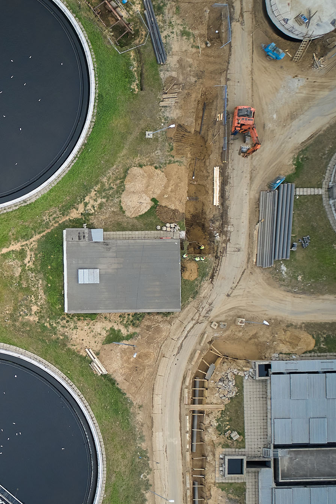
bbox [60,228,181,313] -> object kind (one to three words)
building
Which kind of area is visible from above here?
industrial area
